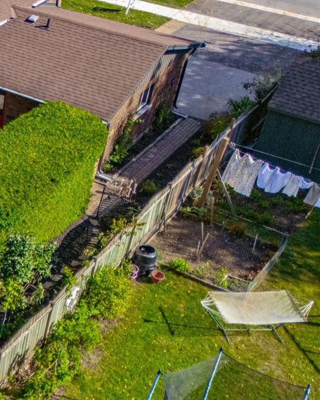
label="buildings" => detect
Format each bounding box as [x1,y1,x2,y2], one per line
[256,49,320,181]
[0,0,215,190]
